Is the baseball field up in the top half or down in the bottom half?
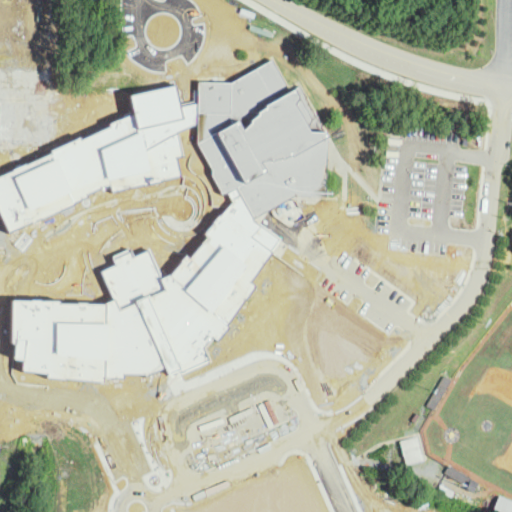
bottom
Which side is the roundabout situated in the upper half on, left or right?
left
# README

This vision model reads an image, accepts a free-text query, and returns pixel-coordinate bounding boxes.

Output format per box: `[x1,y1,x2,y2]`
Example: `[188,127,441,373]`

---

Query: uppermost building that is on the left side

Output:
[0,58,328,384]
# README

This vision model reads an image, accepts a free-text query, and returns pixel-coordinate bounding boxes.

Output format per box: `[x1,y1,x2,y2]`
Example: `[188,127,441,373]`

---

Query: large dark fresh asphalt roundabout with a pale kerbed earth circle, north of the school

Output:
[124,0,206,74]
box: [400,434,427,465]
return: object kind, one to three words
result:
building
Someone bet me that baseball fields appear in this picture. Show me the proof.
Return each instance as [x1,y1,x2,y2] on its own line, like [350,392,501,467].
[422,300,512,502]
